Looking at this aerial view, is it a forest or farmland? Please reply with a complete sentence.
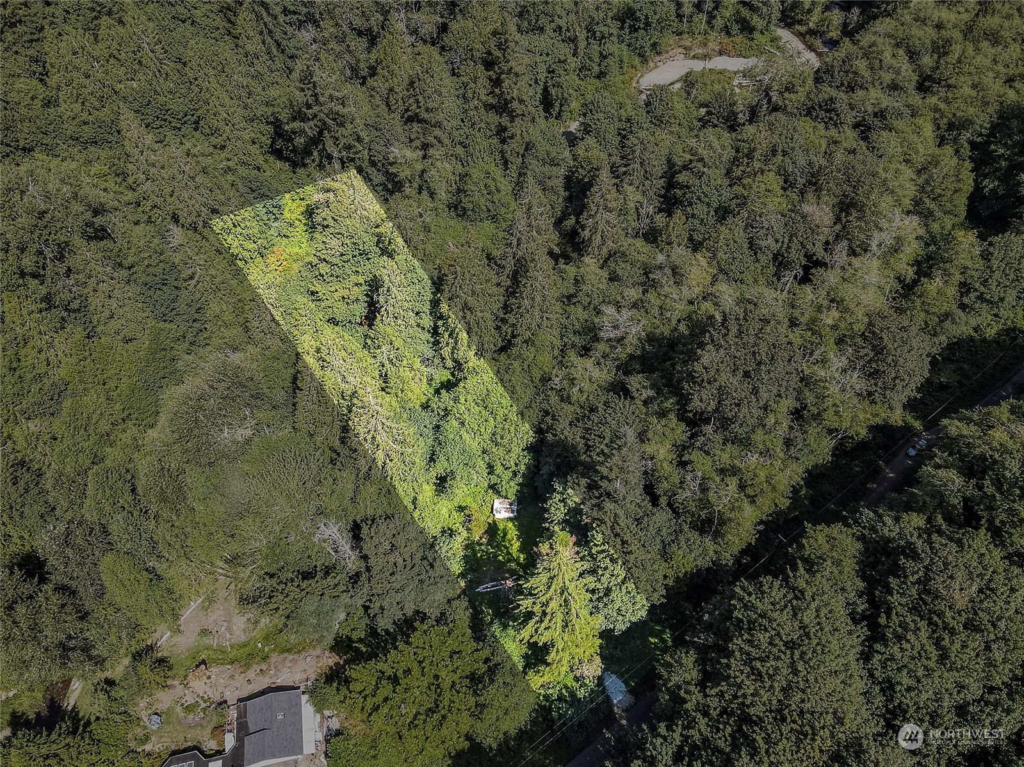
It's a forest.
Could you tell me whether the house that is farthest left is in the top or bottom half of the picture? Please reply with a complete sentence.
Seen from above, the house that is farthest left lies in the bottom half of the view.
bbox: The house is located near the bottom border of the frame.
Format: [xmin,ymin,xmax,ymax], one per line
[161,691,333,767]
